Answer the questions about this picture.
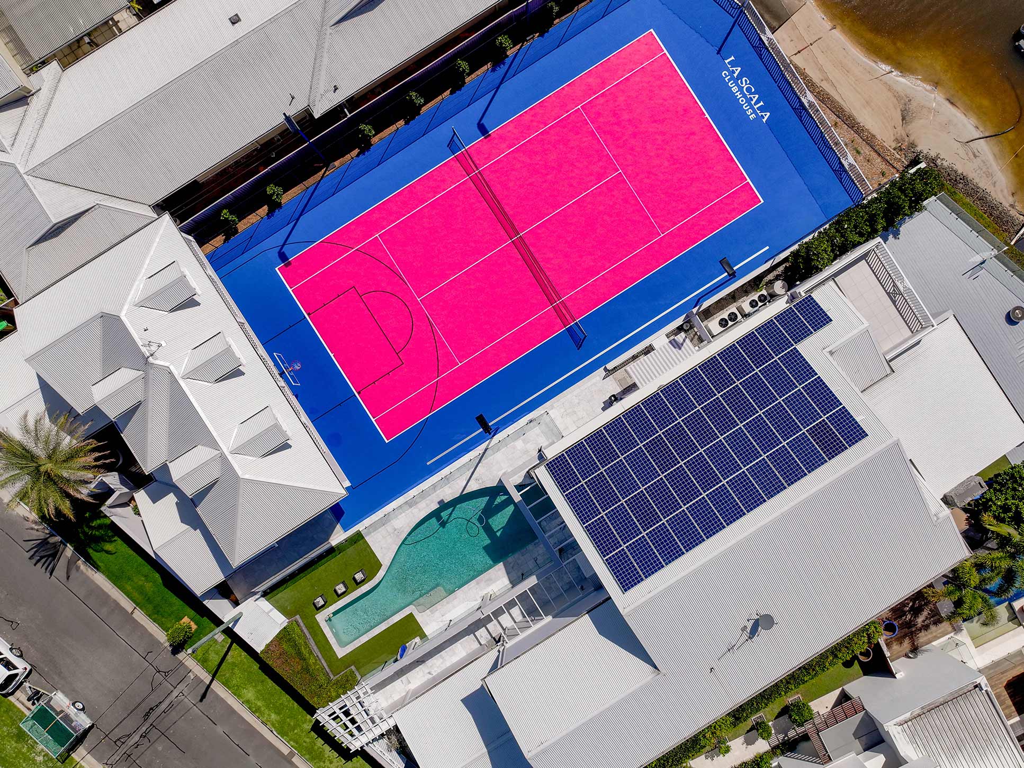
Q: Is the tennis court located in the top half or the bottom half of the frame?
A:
top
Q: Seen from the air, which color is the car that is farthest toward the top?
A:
white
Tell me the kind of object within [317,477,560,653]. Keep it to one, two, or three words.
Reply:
swimming pool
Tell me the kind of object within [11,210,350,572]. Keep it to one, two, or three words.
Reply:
house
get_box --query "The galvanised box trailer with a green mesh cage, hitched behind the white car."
[19,679,95,758]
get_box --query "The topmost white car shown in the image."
[0,642,28,696]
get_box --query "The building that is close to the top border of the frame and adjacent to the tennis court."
[0,0,524,303]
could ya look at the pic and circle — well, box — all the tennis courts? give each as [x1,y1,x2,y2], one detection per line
[207,0,863,531]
